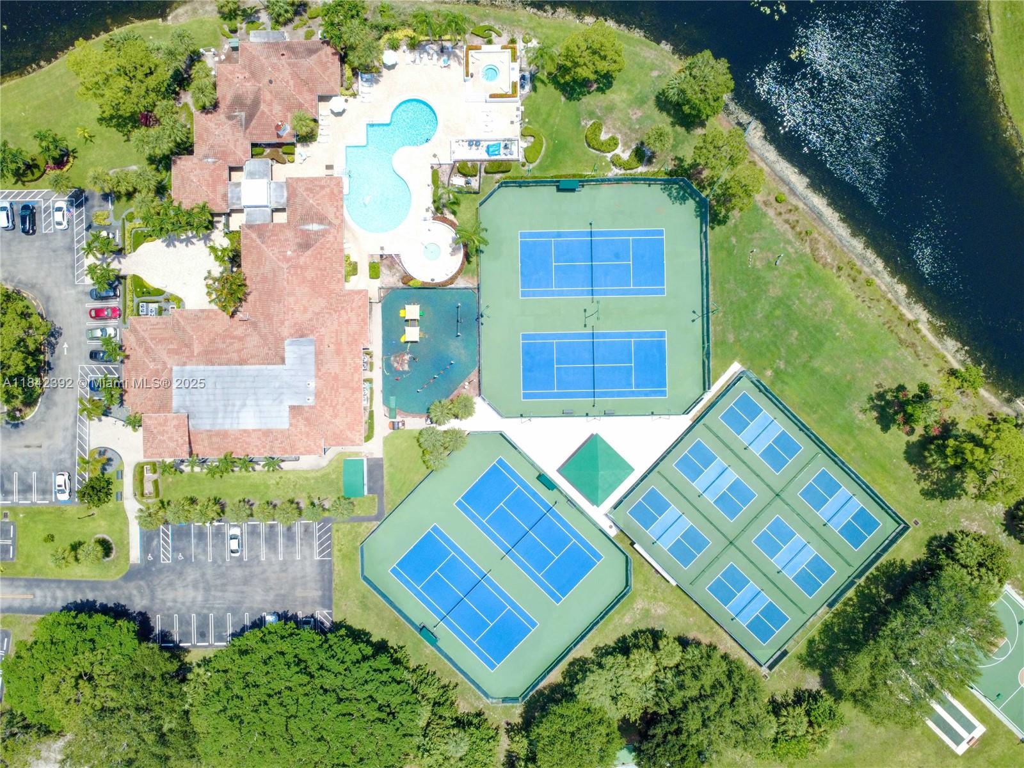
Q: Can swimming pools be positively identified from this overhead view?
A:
Yes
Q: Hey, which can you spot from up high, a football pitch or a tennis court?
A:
tennis court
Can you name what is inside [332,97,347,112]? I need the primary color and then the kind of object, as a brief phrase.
white umbrella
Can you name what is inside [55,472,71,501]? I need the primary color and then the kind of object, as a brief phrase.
white car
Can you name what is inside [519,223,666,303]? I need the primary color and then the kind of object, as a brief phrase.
blue tennis court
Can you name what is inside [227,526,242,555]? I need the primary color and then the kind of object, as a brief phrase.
white car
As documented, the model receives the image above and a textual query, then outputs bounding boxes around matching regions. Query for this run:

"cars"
[88,350,117,361]
[19,205,37,234]
[87,378,117,391]
[302,616,315,646]
[227,526,242,555]
[90,306,122,320]
[53,201,70,230]
[86,326,118,340]
[55,472,71,501]
[0,201,16,232]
